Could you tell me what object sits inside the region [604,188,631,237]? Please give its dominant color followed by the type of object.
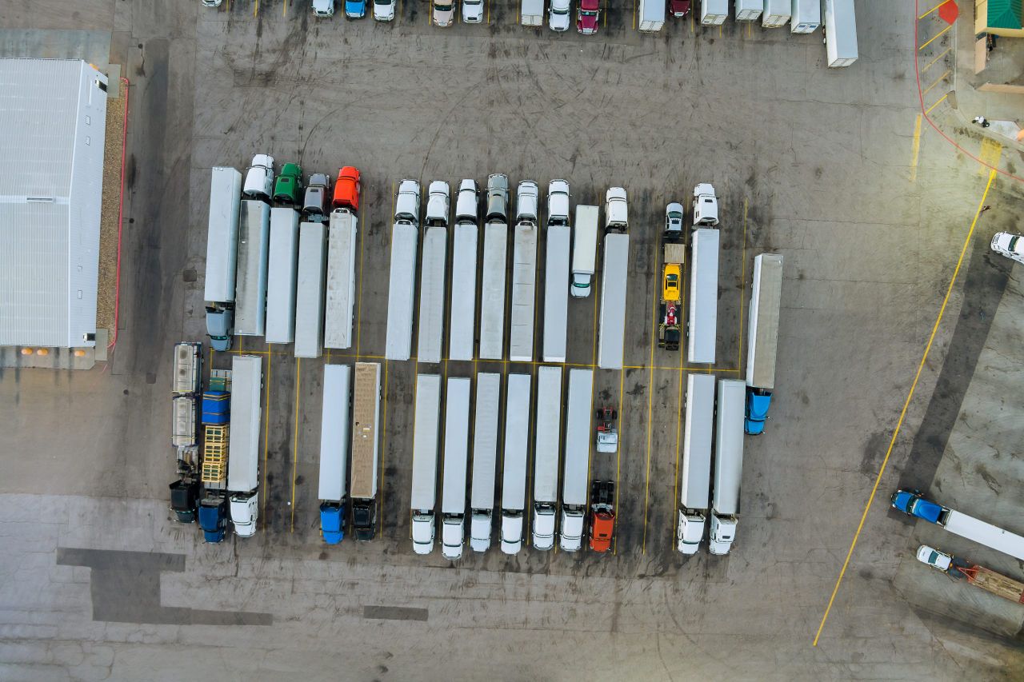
white truck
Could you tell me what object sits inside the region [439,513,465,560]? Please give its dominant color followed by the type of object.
white truck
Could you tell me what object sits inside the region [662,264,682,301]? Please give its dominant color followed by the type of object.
yellow car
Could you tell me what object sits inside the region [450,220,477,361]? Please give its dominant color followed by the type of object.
white trailer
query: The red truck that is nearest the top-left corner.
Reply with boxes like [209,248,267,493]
[333,167,360,229]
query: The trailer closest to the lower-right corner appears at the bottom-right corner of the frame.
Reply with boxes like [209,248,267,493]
[957,564,1024,606]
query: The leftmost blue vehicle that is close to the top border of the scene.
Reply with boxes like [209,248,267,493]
[342,0,367,20]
